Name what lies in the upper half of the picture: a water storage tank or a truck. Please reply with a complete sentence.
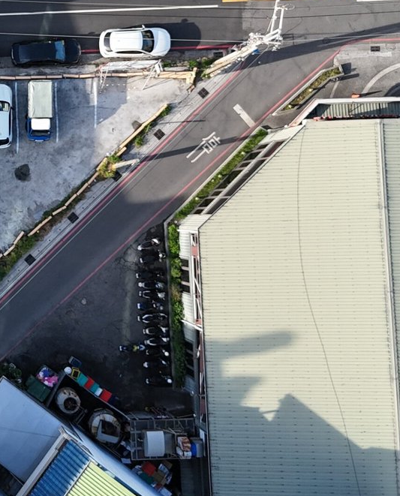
Visible in the upper half of the picture is a truck.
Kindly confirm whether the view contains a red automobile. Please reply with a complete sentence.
No, no red automobile is visible in the view.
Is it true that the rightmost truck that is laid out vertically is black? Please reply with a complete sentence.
No, the rightmost truck that is laid out vertically is white.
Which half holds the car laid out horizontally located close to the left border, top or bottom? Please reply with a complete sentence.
The car laid out horizontally located close to the left border sits in the top half of the picture.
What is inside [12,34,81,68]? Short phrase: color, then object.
black car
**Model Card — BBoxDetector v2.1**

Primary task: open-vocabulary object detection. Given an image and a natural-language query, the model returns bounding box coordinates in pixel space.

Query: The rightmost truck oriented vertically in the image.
[26,79,57,143]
